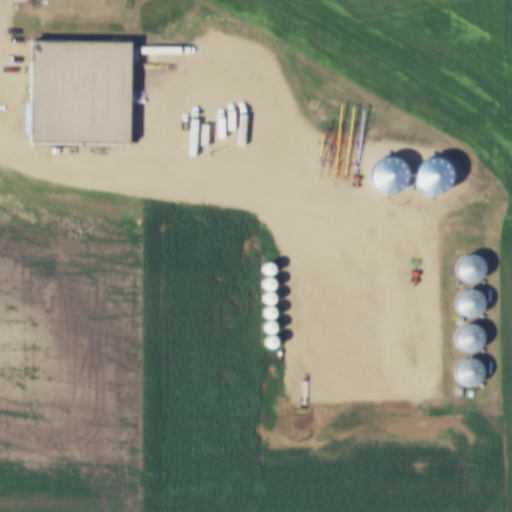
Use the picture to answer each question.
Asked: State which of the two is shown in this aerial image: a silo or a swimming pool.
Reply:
silo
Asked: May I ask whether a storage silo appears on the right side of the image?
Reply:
Yes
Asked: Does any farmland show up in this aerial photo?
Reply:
Yes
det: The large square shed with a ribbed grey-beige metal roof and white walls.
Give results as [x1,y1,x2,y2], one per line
[25,40,147,146]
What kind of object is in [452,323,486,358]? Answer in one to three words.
silo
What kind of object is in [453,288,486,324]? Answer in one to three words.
silo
